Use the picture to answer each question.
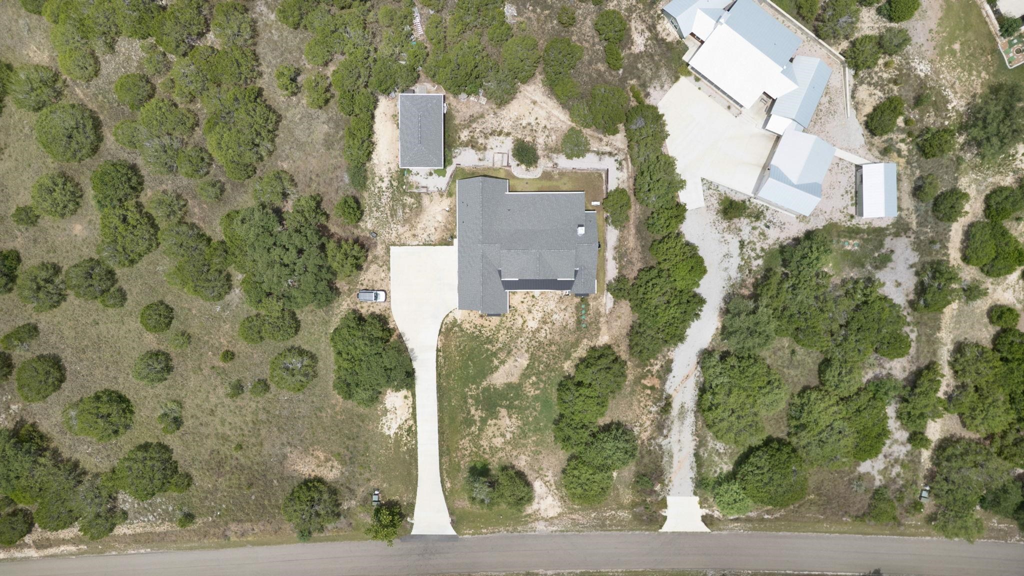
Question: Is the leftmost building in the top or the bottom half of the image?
top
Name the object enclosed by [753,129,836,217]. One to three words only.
building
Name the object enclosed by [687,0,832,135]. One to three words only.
house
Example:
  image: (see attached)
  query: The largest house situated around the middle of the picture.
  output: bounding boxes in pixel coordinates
[456,177,598,316]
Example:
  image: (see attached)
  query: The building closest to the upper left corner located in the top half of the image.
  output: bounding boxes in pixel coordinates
[399,93,444,169]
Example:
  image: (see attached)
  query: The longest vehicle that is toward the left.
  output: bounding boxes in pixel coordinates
[357,289,385,302]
